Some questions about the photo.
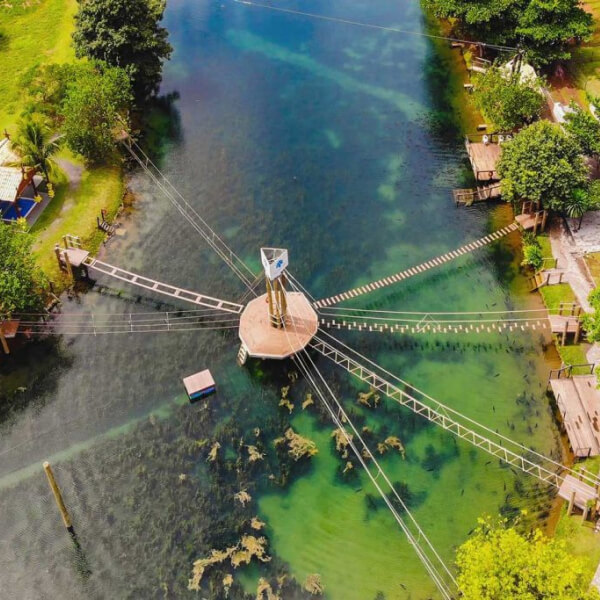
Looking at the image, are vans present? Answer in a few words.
No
